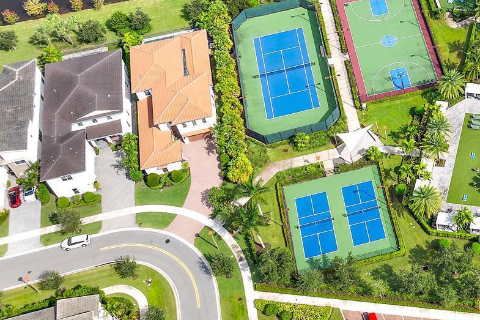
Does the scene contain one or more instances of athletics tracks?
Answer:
No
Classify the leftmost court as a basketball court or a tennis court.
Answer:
tennis court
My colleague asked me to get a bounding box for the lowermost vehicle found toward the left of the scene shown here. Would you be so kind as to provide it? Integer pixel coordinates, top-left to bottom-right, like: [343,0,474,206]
[61,232,88,250]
